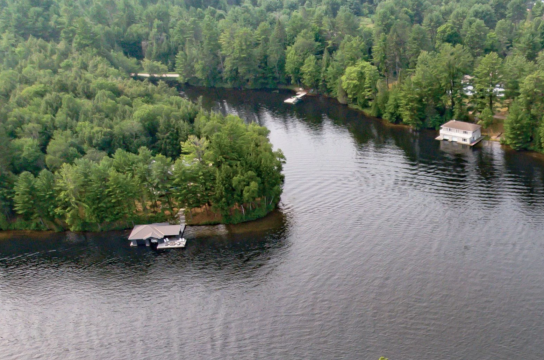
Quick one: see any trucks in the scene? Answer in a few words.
No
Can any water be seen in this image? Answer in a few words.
Yes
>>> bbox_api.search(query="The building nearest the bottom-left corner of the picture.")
[122,223,190,249]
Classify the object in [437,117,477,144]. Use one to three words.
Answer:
building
